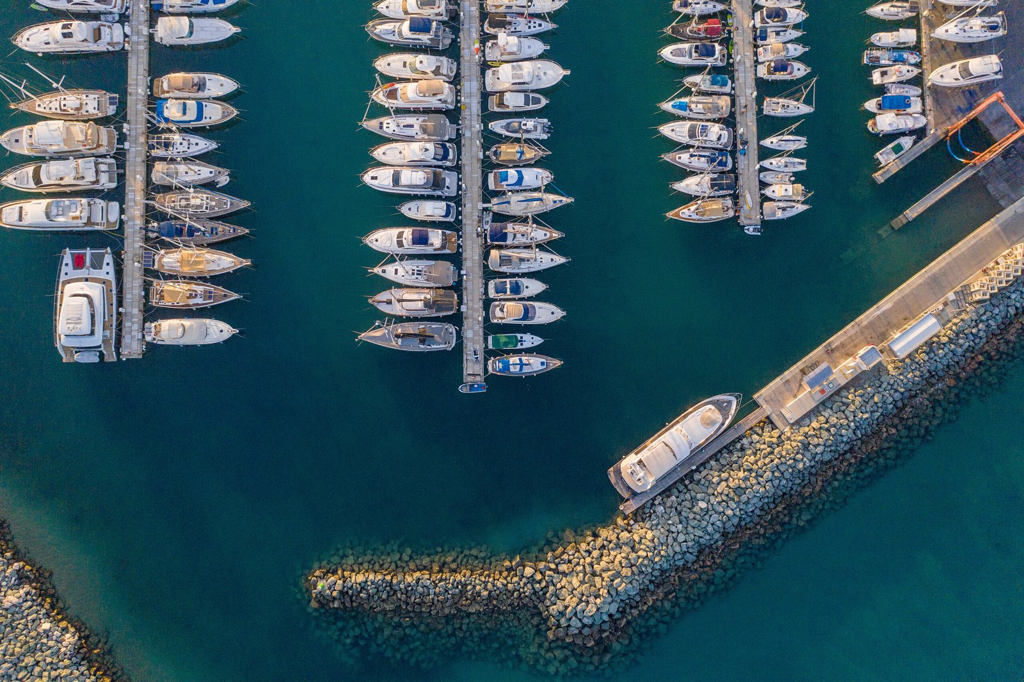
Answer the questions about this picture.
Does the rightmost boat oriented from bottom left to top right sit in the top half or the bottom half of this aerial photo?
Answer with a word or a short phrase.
top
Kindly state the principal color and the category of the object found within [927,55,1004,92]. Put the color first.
white boat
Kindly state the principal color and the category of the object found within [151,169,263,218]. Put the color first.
gray boat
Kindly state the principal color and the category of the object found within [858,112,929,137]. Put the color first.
white boat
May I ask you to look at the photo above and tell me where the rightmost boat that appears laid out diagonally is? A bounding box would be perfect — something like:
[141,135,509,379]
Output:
[869,131,919,167]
